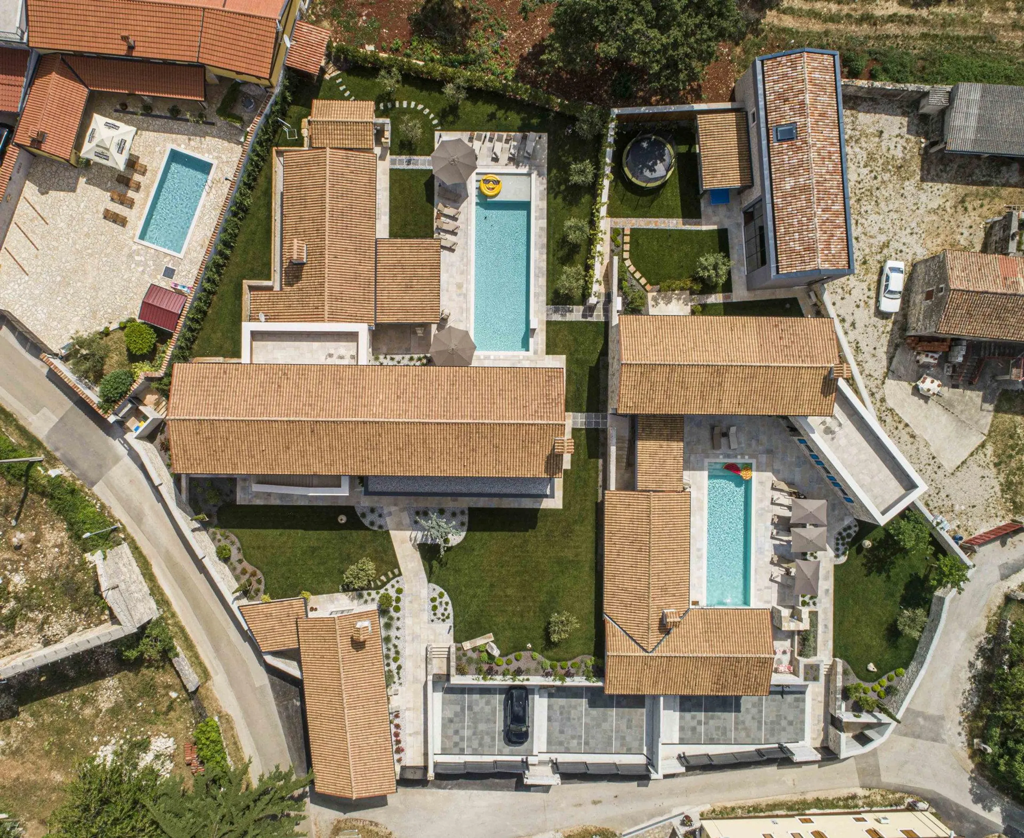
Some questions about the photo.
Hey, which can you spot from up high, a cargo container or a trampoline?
trampoline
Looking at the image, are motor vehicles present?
Yes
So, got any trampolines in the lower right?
No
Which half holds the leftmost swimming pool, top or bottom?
top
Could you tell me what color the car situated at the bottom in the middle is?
black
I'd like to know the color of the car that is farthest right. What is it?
white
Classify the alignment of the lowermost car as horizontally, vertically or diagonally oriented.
vertically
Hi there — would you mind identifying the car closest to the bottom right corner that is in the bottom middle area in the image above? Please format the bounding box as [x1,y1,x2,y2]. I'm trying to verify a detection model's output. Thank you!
[504,684,531,744]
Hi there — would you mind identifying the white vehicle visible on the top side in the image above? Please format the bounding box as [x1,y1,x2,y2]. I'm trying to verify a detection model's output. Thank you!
[875,259,905,315]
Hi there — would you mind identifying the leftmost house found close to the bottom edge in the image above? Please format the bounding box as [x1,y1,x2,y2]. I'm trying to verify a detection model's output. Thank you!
[296,604,401,799]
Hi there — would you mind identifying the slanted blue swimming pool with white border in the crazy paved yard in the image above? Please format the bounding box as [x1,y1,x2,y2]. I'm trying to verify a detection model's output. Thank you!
[133,144,218,259]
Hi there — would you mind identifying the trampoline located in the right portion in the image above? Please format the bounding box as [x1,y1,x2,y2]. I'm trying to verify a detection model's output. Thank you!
[623,130,678,188]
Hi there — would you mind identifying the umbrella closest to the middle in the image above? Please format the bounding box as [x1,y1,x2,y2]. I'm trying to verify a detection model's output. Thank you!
[430,326,476,367]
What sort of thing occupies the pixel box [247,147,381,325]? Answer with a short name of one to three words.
house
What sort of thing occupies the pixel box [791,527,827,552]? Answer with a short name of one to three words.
umbrella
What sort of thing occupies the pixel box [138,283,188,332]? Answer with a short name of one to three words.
shed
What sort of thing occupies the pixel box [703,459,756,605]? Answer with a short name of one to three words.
swimming pool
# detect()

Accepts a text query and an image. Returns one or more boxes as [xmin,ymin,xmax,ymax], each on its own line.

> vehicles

[504,684,531,744]
[875,259,905,315]
[0,118,18,170]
